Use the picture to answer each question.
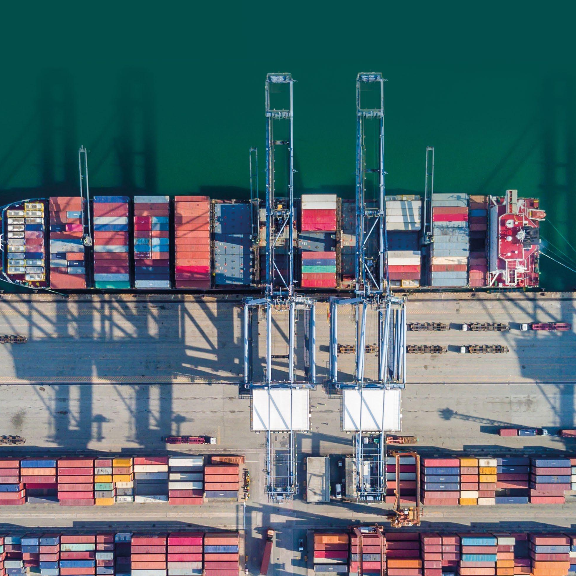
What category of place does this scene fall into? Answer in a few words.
port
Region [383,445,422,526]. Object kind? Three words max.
container crane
